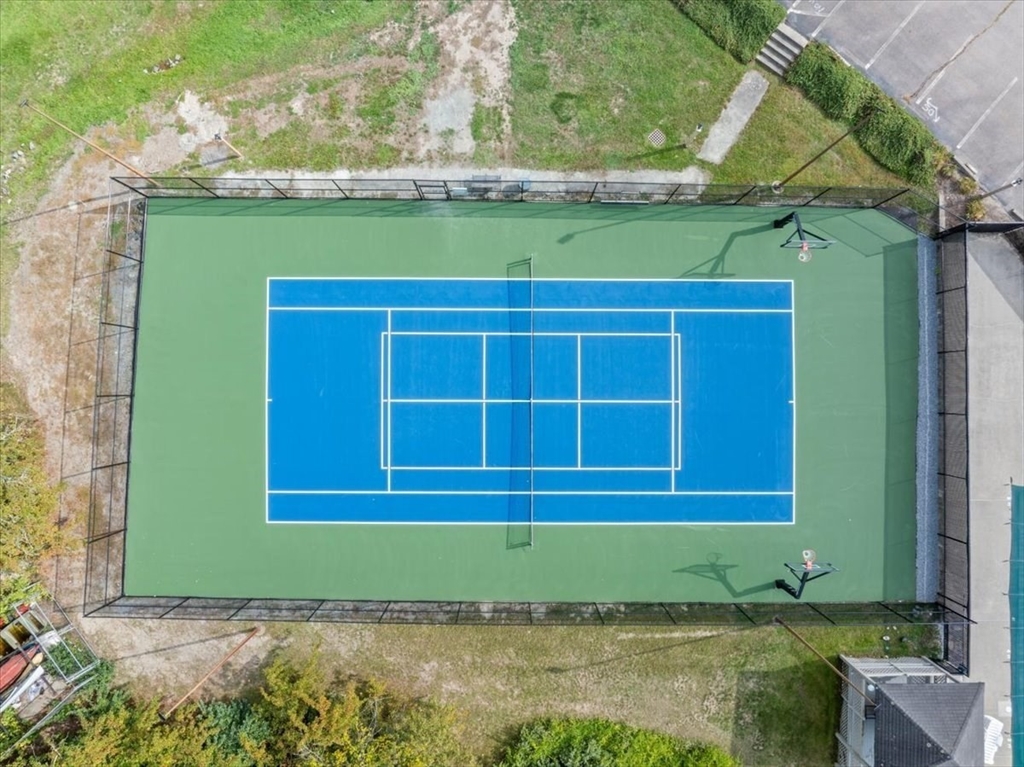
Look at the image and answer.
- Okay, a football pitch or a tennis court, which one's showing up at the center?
tennis court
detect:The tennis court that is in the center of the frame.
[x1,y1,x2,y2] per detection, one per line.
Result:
[124,198,918,602]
